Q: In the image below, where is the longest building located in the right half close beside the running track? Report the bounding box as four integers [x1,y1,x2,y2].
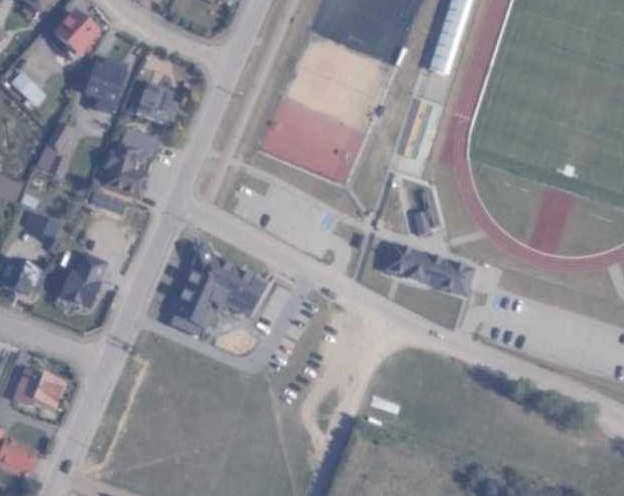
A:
[375,243,477,300]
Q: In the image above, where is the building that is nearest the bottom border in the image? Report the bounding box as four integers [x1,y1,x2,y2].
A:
[1,441,40,474]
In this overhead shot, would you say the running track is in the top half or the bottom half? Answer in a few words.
top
